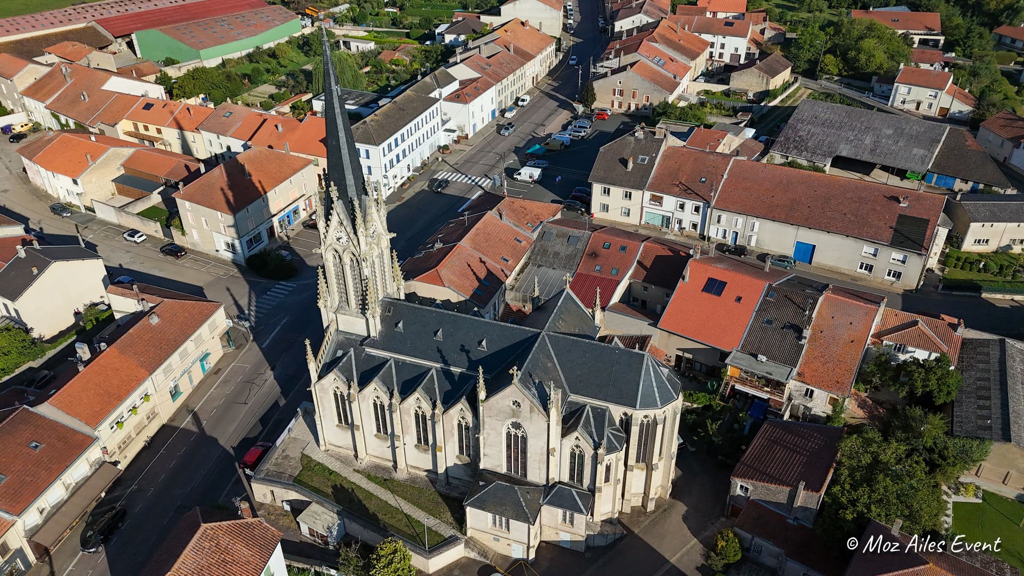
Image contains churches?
Yes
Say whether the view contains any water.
No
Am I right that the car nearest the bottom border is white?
No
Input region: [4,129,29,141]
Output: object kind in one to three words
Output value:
vehicle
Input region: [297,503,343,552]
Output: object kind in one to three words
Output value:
shed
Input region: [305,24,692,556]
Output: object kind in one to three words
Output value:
church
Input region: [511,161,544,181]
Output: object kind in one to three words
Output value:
vehicle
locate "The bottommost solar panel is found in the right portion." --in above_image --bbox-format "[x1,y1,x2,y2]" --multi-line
[701,276,727,297]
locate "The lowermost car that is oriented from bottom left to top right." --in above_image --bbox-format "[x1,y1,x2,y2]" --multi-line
[74,497,128,551]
